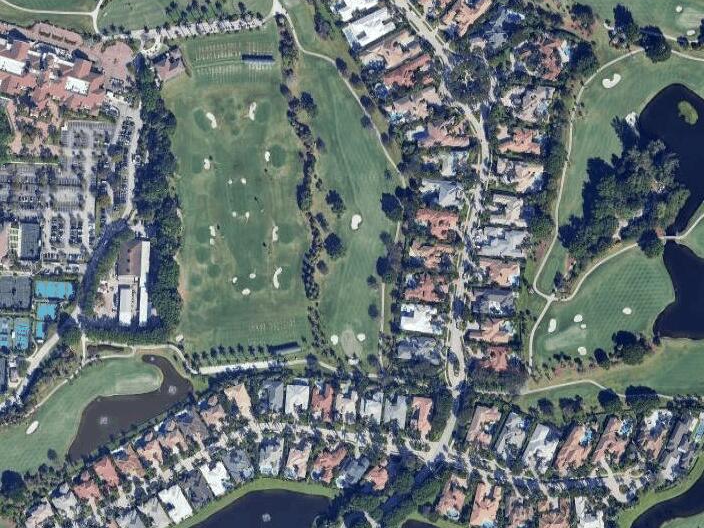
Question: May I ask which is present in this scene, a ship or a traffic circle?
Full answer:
This aerial view contains a traffic circle.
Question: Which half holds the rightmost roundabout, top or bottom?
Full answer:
The top half of the photo is where the rightmost roundabout is.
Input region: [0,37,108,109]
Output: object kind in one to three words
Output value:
building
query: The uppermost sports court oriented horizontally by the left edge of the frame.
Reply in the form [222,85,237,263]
[35,281,73,298]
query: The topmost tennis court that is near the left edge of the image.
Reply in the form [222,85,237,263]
[21,223,41,259]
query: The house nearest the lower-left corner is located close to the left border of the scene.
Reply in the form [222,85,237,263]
[23,504,56,528]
